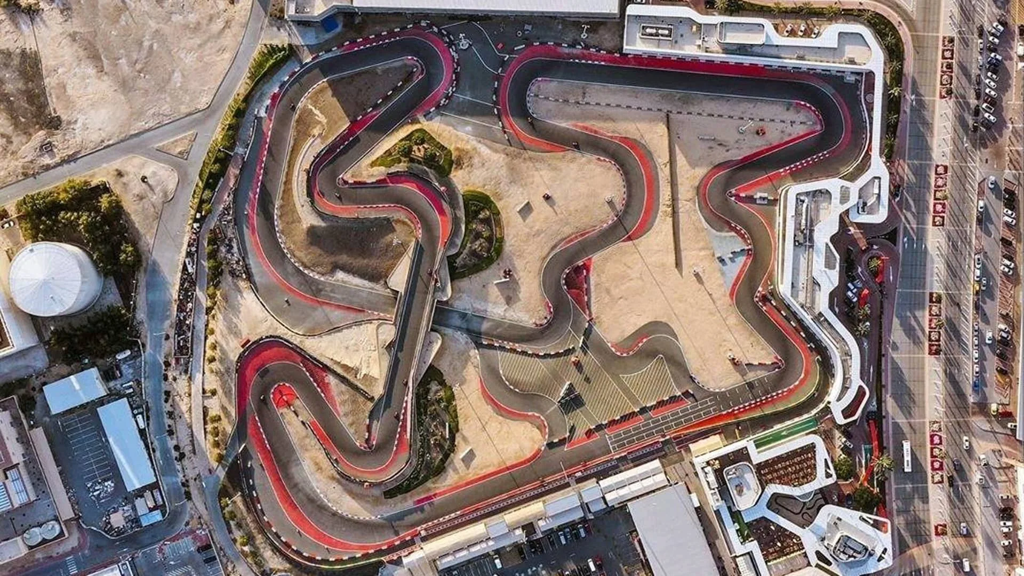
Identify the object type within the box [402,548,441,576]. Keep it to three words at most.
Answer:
building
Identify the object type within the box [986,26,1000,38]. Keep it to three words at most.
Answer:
vehicle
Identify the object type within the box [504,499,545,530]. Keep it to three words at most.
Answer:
building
